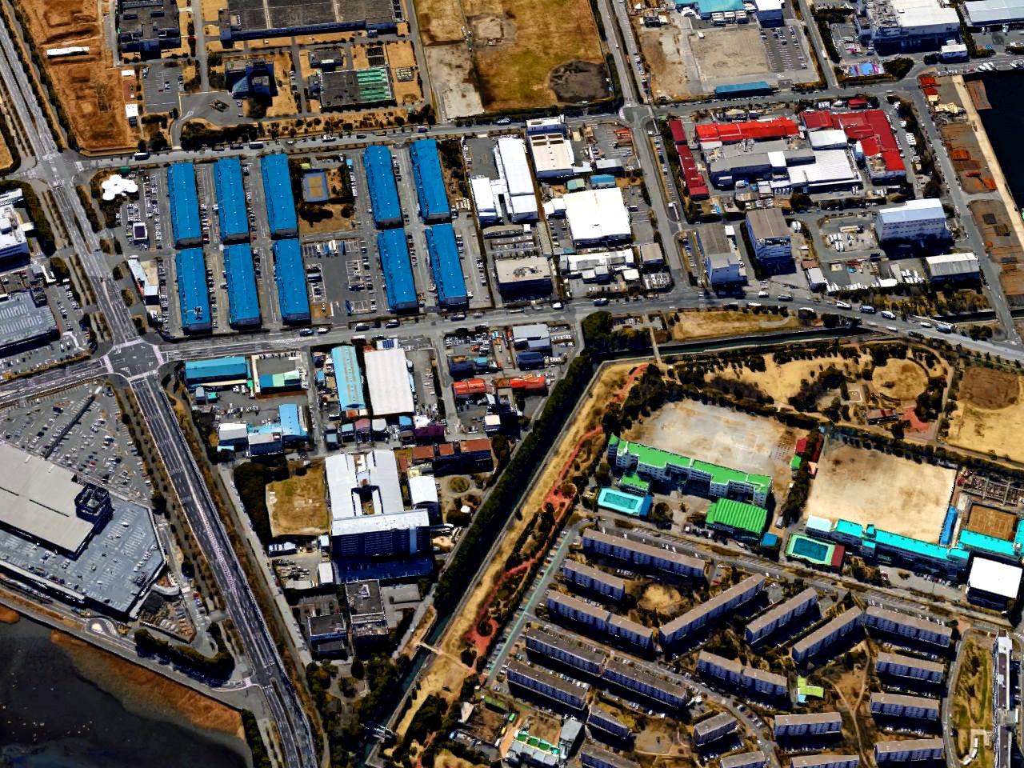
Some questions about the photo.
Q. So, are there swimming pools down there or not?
Yes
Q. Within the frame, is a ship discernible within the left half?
No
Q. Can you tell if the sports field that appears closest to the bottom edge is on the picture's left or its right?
right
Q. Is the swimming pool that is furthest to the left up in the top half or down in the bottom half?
bottom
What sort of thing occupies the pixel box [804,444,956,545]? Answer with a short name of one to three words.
sports field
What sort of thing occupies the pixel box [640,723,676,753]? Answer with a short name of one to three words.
playground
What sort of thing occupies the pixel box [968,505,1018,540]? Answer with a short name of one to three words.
tennis court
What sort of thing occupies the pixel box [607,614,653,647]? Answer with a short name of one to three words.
building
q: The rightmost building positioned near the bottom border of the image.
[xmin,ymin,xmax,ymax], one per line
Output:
[991,628,1019,768]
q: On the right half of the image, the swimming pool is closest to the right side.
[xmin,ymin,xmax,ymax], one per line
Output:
[786,535,845,568]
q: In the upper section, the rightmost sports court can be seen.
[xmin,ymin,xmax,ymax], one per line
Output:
[302,170,329,201]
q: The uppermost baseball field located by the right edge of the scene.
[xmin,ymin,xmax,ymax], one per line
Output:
[947,361,1024,459]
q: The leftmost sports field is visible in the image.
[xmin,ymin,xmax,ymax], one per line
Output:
[621,399,803,479]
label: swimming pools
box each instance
[786,535,845,568]
[598,489,653,517]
